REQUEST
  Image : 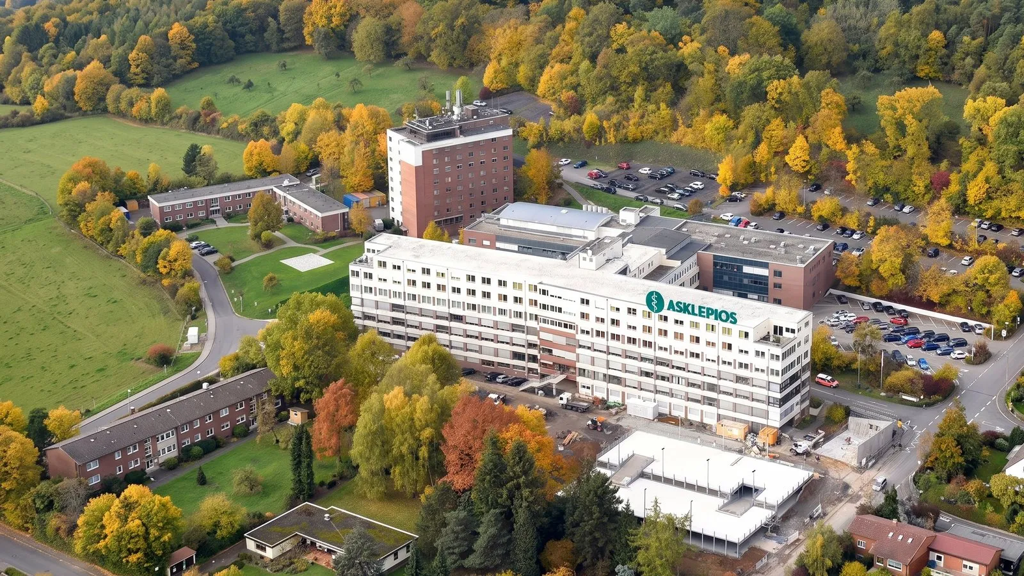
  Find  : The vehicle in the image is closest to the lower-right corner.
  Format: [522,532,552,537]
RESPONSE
[871,473,888,491]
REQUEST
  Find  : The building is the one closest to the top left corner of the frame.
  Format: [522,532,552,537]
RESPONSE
[145,170,353,231]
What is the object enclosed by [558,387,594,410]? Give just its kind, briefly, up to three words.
truck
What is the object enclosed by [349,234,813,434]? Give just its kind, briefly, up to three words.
building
